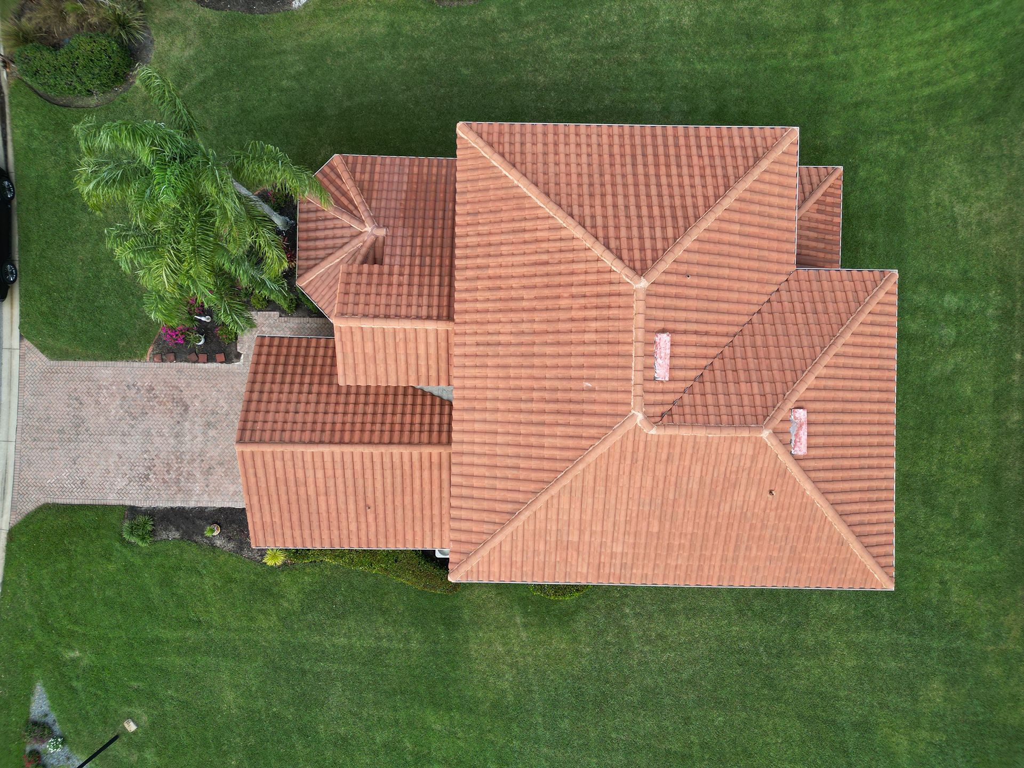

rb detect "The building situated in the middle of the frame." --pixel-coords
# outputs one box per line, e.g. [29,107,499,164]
[232,120,901,589]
